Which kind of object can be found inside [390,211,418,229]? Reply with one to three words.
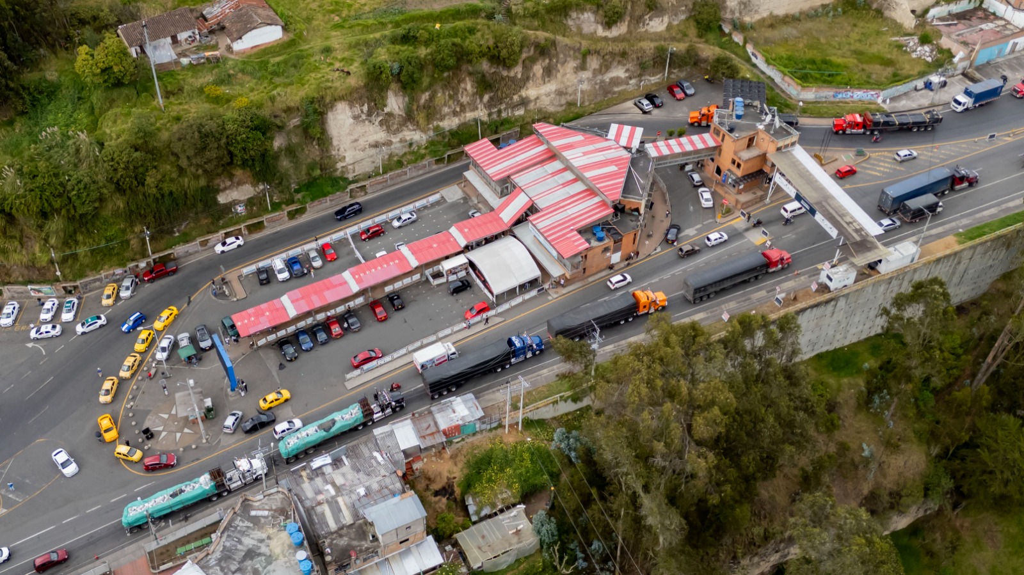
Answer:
car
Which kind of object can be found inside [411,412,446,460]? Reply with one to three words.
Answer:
shed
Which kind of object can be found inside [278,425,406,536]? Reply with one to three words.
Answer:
house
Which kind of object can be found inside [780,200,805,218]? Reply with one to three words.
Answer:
vehicle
